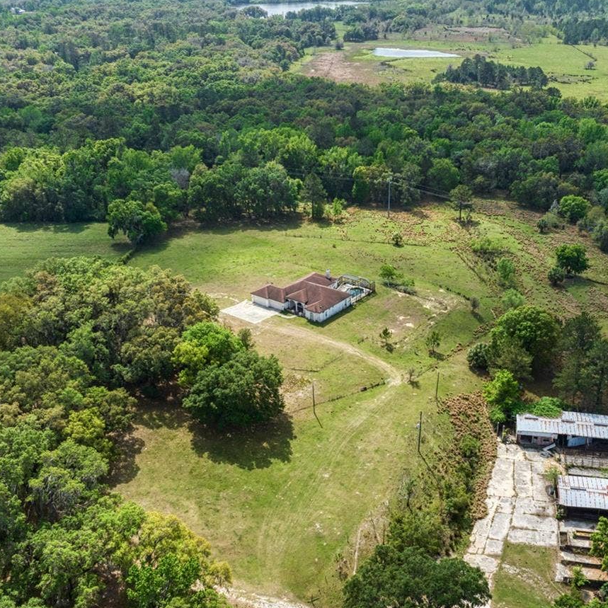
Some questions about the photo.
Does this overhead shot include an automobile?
No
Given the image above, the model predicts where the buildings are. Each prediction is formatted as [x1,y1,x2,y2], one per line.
[248,271,354,323]
[555,474,608,523]
[514,409,608,452]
